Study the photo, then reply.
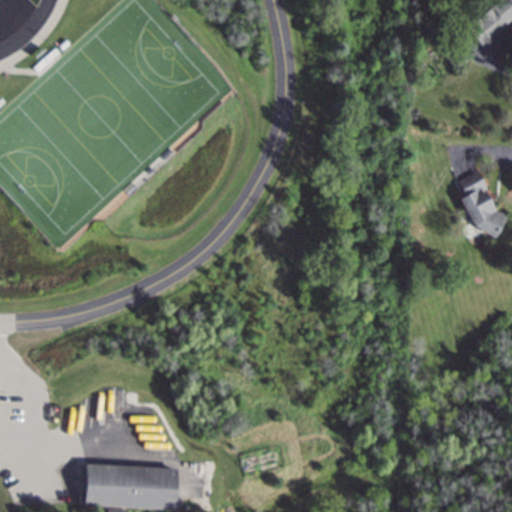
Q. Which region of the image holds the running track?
top left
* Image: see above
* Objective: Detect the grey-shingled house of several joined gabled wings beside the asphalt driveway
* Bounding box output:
[460,168,508,239]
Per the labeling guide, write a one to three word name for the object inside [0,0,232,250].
sports field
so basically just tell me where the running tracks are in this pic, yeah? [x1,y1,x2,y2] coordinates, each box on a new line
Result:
[0,0,70,77]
